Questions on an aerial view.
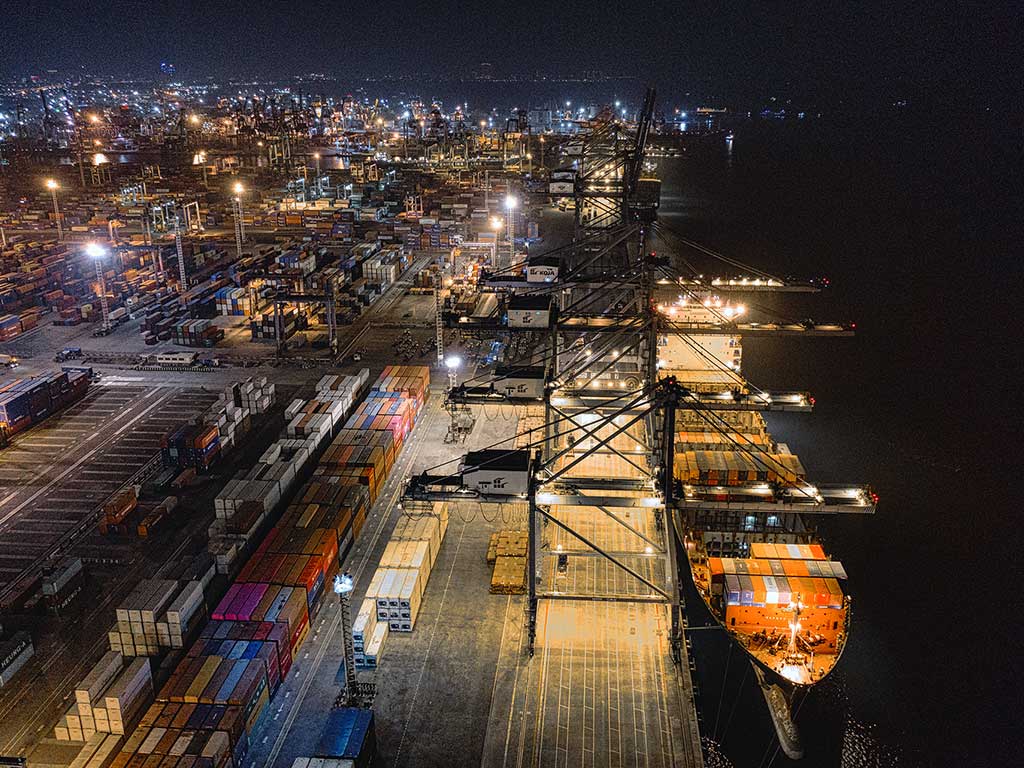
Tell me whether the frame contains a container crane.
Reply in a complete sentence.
Yes, this view includes a container crane.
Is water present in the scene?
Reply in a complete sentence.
Yes, there's water in this view.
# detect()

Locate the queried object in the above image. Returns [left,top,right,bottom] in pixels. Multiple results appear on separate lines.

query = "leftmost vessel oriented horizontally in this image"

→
[71,134,136,150]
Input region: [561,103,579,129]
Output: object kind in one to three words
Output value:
building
